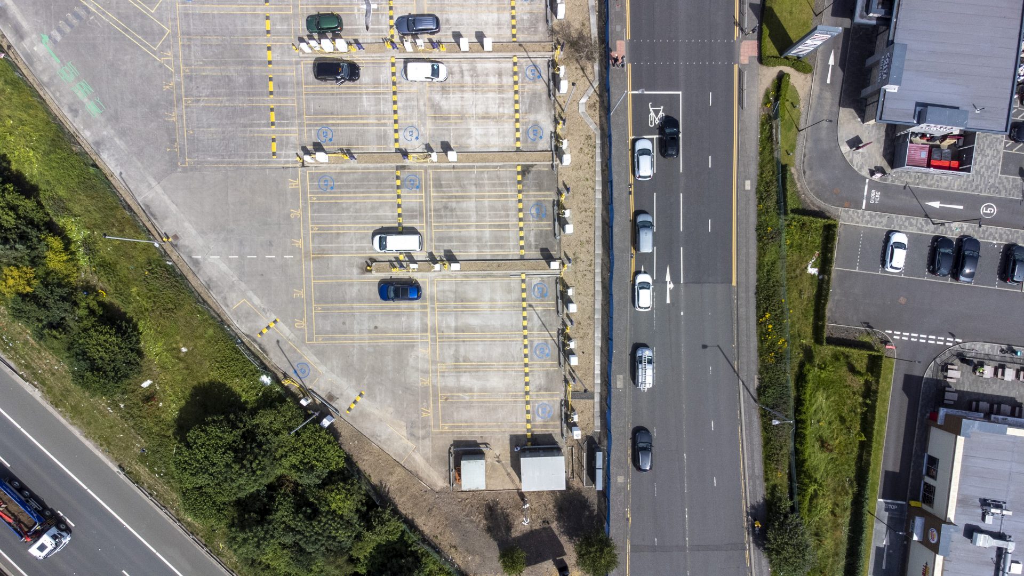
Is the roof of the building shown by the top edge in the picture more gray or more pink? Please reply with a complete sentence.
The roof of the building shown by the top edge looks gray in the image.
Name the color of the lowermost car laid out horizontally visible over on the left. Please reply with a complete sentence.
In this view, the lowermost car laid out horizontally visible over on the left is blue.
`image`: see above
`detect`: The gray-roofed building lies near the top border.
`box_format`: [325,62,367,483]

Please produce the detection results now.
[852,0,1024,136]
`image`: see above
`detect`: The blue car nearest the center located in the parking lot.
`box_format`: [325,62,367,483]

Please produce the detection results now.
[379,281,422,302]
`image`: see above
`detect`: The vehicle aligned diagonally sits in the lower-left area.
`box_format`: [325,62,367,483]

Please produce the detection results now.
[0,475,73,558]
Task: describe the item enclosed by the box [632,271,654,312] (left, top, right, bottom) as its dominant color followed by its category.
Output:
white car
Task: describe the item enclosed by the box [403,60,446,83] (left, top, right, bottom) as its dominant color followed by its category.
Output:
white vehicle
